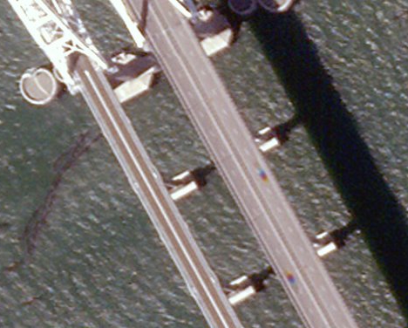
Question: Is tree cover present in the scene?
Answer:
No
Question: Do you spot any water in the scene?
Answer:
Yes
